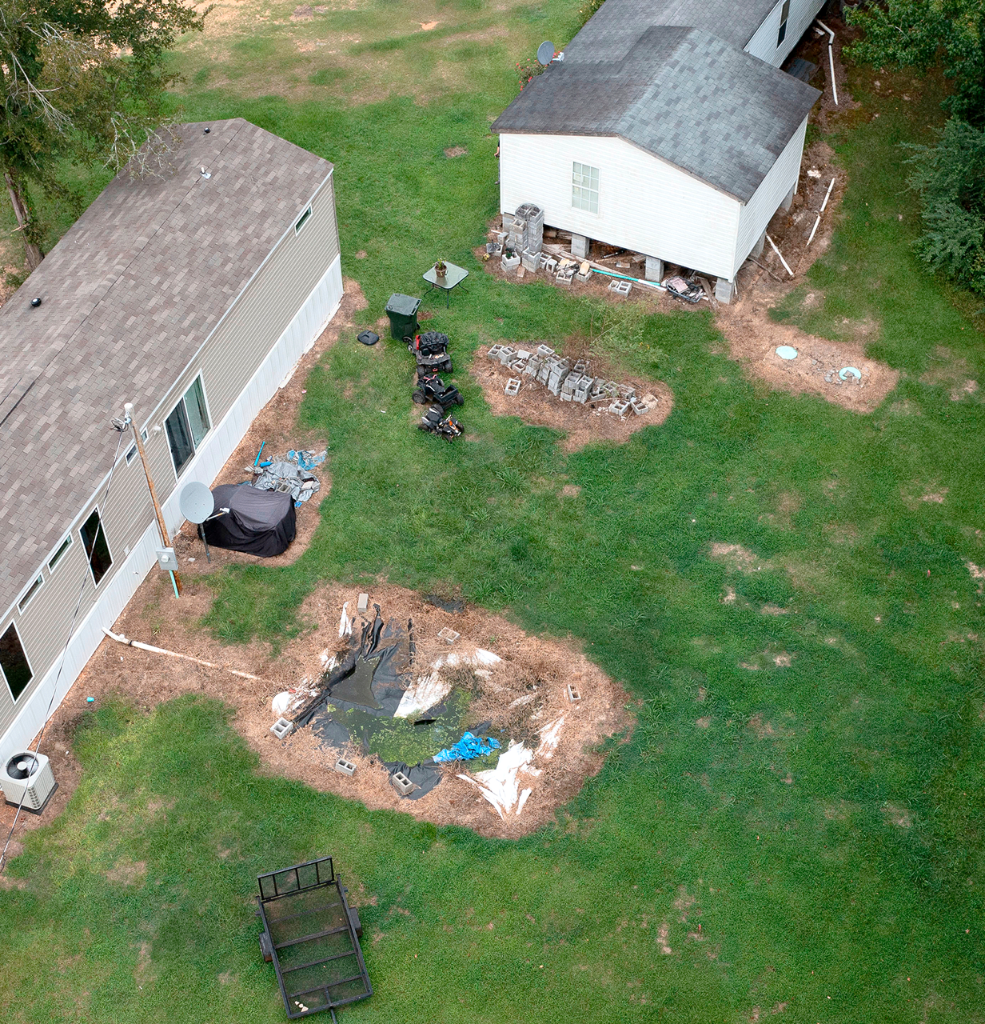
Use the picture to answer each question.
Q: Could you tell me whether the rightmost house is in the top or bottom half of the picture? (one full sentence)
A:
You can find the rightmost house in the top half.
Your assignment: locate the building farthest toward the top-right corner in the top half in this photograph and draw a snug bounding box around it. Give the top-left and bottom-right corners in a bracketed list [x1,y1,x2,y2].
[489,0,829,284]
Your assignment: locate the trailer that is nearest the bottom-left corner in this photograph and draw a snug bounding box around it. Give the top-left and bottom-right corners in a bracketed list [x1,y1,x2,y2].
[256,859,372,1024]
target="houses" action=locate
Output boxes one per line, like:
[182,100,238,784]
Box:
[489,0,829,284]
[0,118,345,774]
